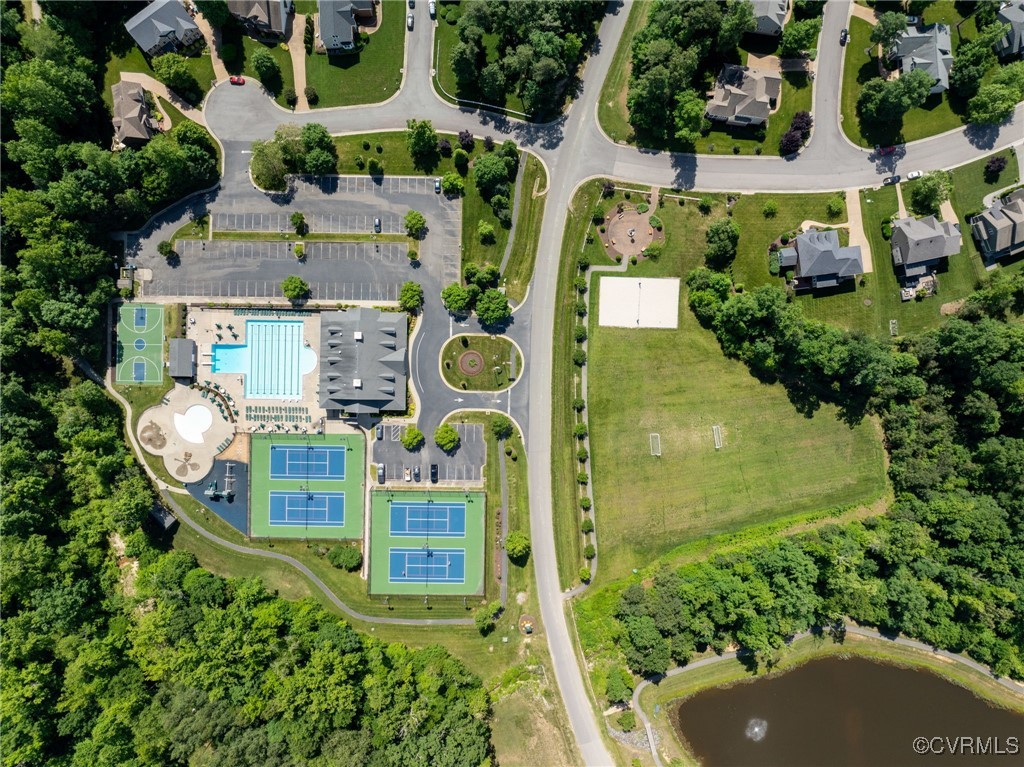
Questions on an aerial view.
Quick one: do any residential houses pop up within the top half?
Yes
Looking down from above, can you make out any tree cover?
Yes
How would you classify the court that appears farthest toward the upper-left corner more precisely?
basketball court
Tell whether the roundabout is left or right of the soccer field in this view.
left of it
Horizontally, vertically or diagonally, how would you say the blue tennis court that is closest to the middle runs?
horizontally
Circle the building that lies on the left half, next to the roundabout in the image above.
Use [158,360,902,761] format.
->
[319,304,407,420]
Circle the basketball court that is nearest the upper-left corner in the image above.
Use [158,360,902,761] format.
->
[113,304,164,385]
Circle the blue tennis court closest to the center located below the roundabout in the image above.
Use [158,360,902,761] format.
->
[389,500,466,540]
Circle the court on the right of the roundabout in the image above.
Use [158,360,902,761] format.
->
[598,276,680,329]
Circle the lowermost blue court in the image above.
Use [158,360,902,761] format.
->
[389,546,465,587]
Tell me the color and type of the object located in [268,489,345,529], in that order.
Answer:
blue tennis court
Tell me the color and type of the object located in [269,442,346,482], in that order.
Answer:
blue tennis court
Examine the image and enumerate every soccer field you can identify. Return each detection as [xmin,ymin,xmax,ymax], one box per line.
[586,312,889,586]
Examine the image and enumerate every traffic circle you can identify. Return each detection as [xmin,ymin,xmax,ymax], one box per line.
[410,287,533,454]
